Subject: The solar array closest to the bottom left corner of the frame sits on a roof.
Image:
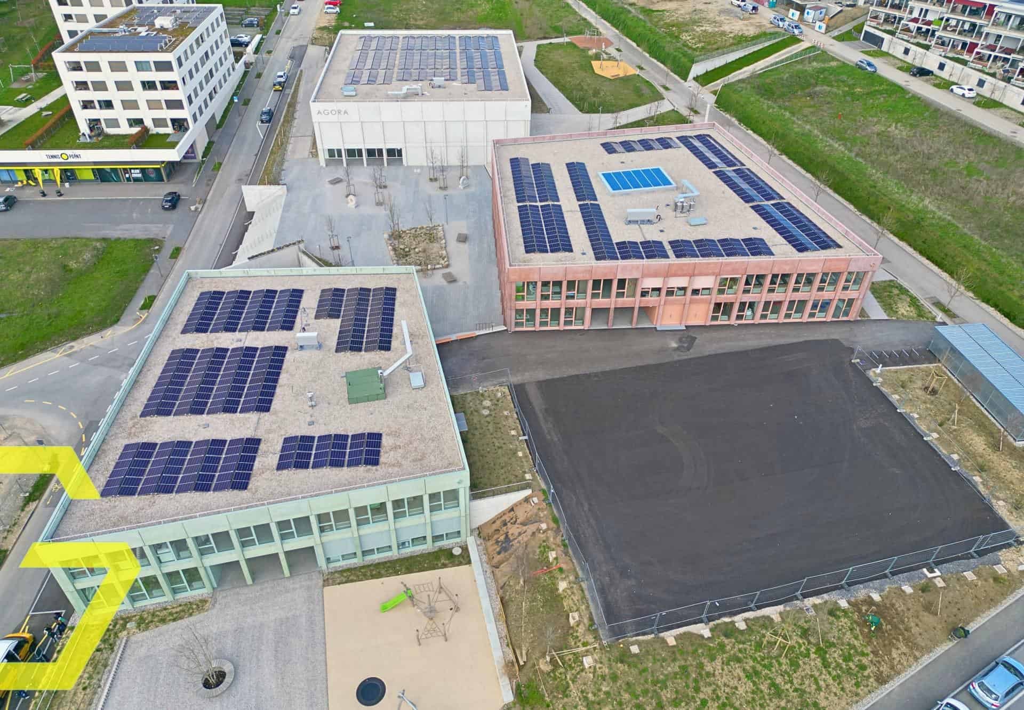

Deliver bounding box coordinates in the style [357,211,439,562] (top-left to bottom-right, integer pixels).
[100,437,262,499]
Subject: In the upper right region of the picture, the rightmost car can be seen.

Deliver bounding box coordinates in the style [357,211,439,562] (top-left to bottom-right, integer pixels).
[951,86,976,98]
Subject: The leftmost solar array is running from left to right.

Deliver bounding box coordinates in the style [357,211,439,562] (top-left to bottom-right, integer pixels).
[73,37,168,52]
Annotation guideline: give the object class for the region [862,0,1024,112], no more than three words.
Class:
house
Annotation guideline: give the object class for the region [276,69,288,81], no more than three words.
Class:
vehicle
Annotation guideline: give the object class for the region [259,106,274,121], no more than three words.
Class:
car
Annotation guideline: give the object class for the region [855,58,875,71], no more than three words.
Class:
vehicle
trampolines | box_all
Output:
[351,673,391,710]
